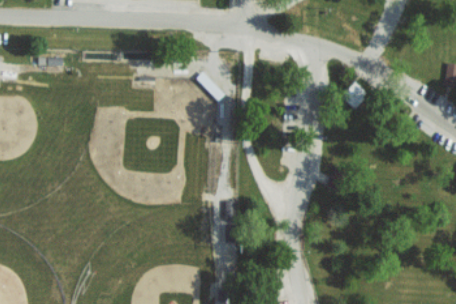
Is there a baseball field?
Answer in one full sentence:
Yes, this view includes a baseball field.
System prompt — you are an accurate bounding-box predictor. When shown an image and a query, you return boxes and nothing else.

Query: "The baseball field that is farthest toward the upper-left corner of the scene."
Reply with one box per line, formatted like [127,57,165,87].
[0,94,38,160]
